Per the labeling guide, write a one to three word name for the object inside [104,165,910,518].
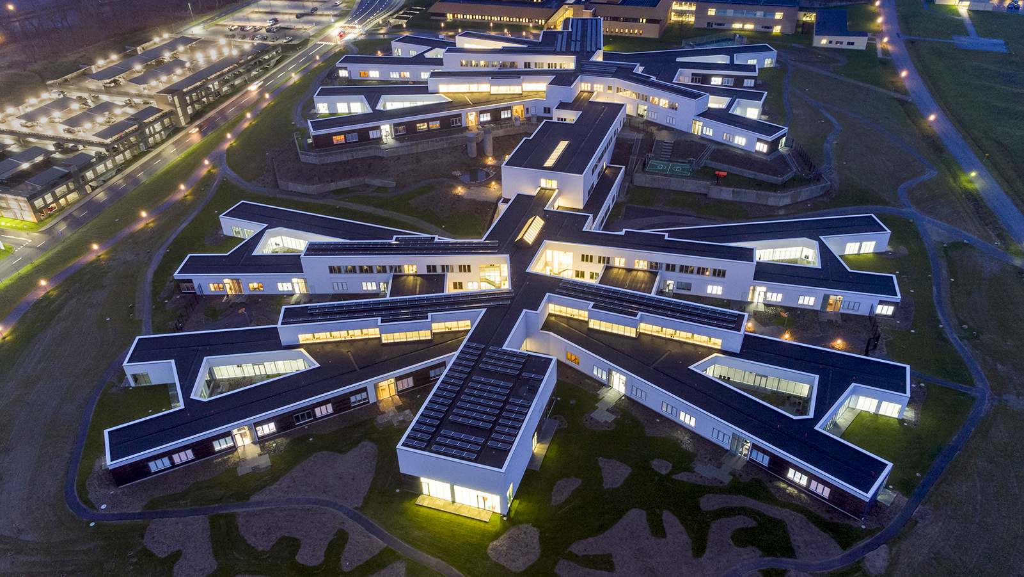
building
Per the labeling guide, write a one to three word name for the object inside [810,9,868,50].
house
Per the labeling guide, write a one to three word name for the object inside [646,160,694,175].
sports court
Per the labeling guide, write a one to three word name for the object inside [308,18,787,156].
building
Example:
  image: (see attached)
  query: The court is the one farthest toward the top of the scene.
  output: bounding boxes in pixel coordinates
[683,30,747,49]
